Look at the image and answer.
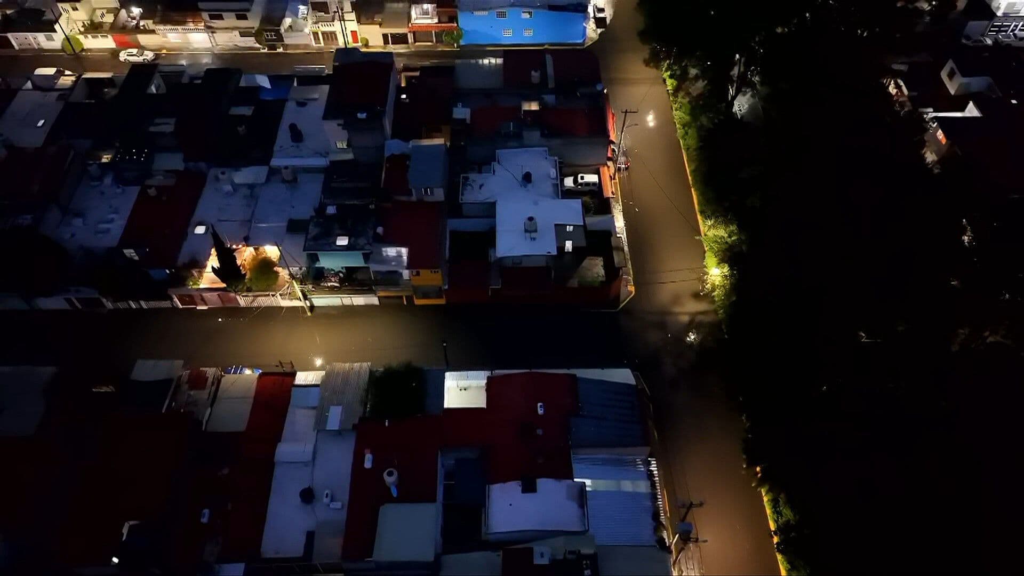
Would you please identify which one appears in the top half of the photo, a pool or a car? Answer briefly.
car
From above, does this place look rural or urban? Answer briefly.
urban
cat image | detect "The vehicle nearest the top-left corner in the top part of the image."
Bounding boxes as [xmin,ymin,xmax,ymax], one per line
[27,69,73,91]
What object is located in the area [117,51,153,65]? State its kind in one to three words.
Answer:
car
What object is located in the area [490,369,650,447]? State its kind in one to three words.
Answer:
house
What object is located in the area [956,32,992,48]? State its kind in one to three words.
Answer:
car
